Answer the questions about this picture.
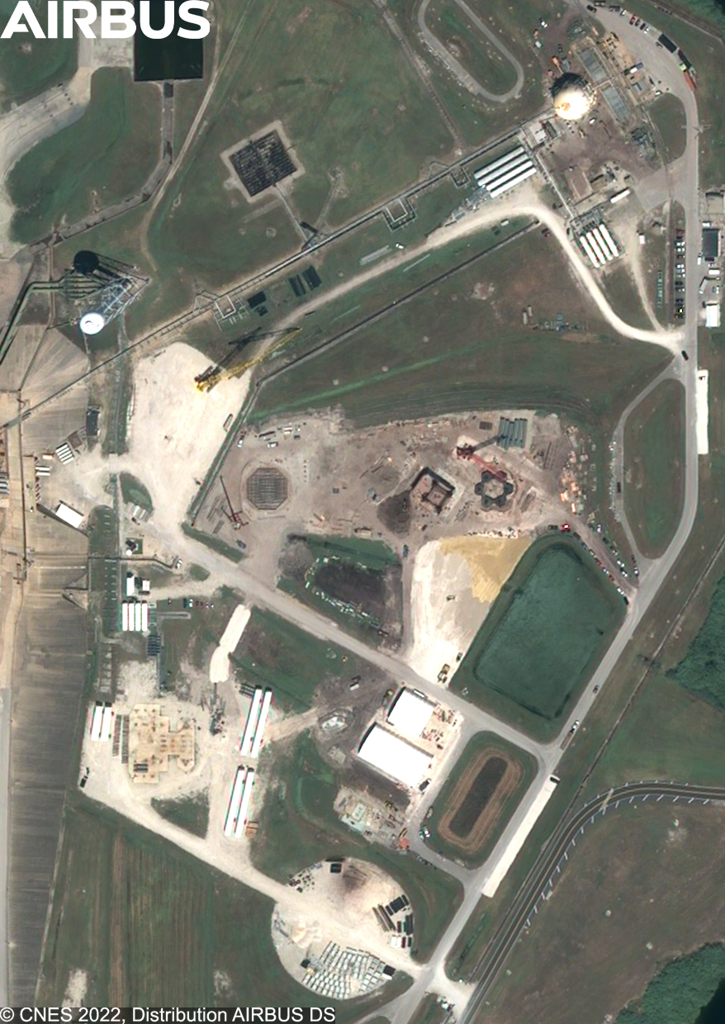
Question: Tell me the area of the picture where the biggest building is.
bottom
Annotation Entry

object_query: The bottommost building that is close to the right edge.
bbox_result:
[706,303,722,327]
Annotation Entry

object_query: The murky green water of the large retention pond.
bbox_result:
[476,542,610,718]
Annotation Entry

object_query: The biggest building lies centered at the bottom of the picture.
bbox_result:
[359,721,433,787]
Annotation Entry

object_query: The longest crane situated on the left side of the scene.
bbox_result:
[189,327,302,398]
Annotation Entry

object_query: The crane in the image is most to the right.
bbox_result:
[447,444,506,482]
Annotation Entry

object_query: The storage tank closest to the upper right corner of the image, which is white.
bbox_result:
[554,78,598,122]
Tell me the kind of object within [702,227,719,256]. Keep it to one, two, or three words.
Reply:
building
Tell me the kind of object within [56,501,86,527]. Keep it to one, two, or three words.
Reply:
building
